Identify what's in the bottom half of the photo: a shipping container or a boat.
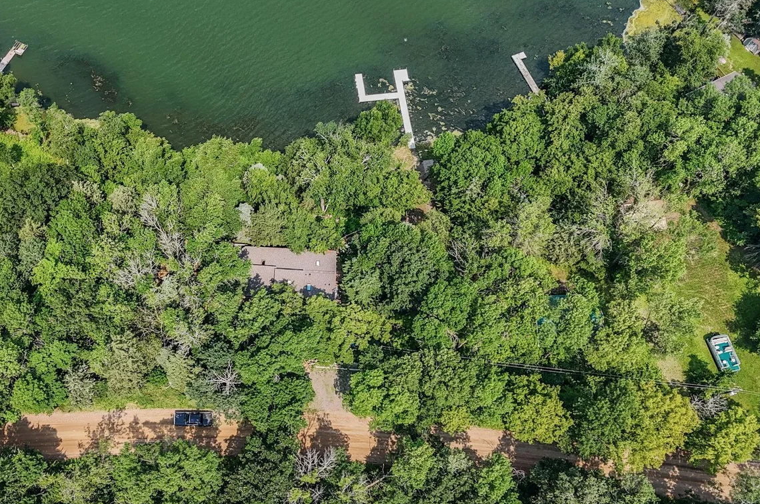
boat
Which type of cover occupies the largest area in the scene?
trees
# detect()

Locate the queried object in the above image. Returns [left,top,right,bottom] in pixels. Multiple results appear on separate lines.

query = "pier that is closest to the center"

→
[355,67,415,149]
